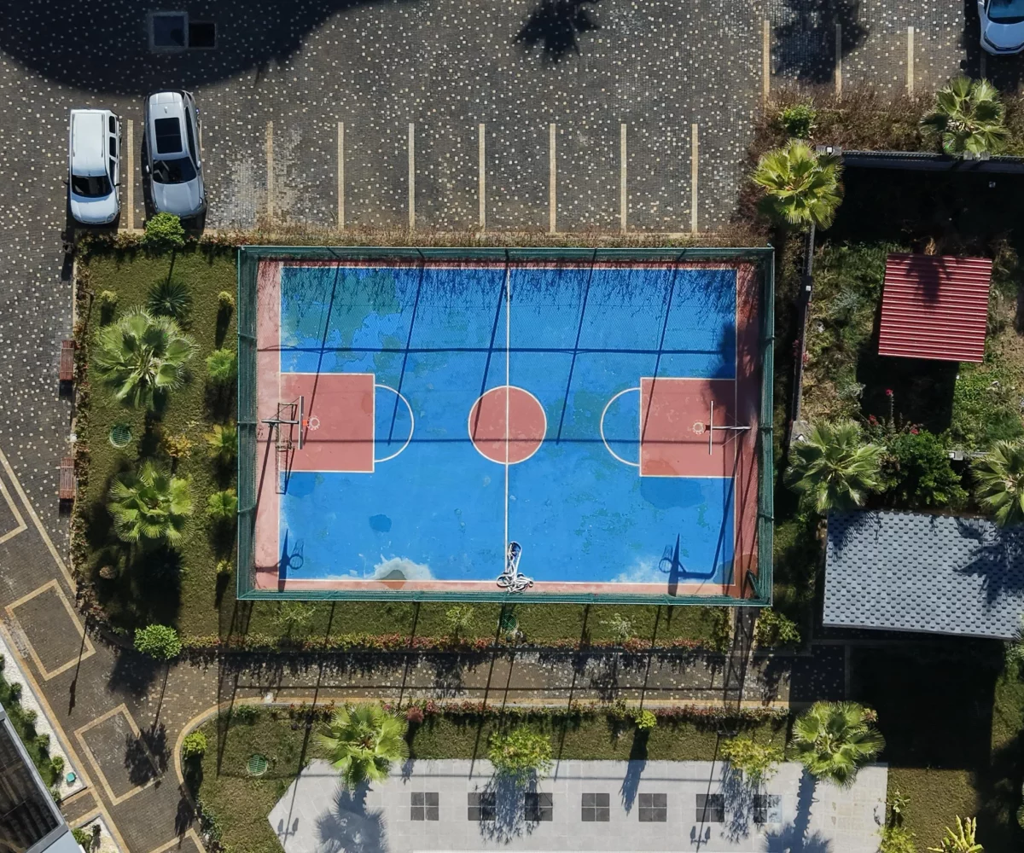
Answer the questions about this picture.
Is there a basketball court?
Yes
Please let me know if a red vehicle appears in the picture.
No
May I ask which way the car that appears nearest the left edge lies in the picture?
vertically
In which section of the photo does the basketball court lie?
center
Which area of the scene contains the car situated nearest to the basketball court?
top left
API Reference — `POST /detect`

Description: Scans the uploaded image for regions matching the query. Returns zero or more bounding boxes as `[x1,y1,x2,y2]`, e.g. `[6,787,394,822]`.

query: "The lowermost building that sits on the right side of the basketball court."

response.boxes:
[819,509,1024,640]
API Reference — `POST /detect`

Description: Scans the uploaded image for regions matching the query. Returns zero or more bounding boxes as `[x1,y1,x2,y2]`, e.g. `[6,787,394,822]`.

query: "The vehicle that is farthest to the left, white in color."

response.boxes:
[63,109,123,226]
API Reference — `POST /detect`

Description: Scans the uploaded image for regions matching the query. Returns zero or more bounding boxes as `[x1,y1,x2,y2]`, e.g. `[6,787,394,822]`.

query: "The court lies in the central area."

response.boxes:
[256,258,761,598]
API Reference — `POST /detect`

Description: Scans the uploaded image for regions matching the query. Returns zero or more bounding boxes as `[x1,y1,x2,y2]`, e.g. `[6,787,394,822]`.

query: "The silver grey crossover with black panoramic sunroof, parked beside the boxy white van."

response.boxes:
[145,92,207,219]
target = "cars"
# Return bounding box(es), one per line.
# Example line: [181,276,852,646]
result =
[63,109,123,226]
[976,0,1024,55]
[145,92,207,219]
